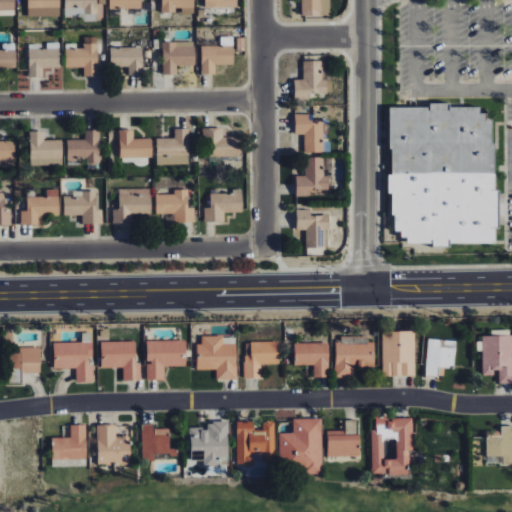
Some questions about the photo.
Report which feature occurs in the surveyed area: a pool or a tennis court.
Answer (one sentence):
The image shows a pool.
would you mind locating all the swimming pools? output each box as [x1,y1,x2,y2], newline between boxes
[278,422,293,433]
[13,330,42,347]
[60,178,86,195]
[150,459,180,476]
[385,441,396,460]
[128,12,150,26]
[52,328,93,343]
[194,324,236,344]
[146,328,182,340]
[0,32,14,43]
[164,28,194,42]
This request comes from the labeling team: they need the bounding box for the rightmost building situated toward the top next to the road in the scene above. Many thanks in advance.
[388,102,500,247]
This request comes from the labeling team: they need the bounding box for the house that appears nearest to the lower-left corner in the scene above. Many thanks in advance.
[52,425,87,468]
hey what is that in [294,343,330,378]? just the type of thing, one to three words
house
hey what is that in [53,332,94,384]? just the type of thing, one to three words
house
